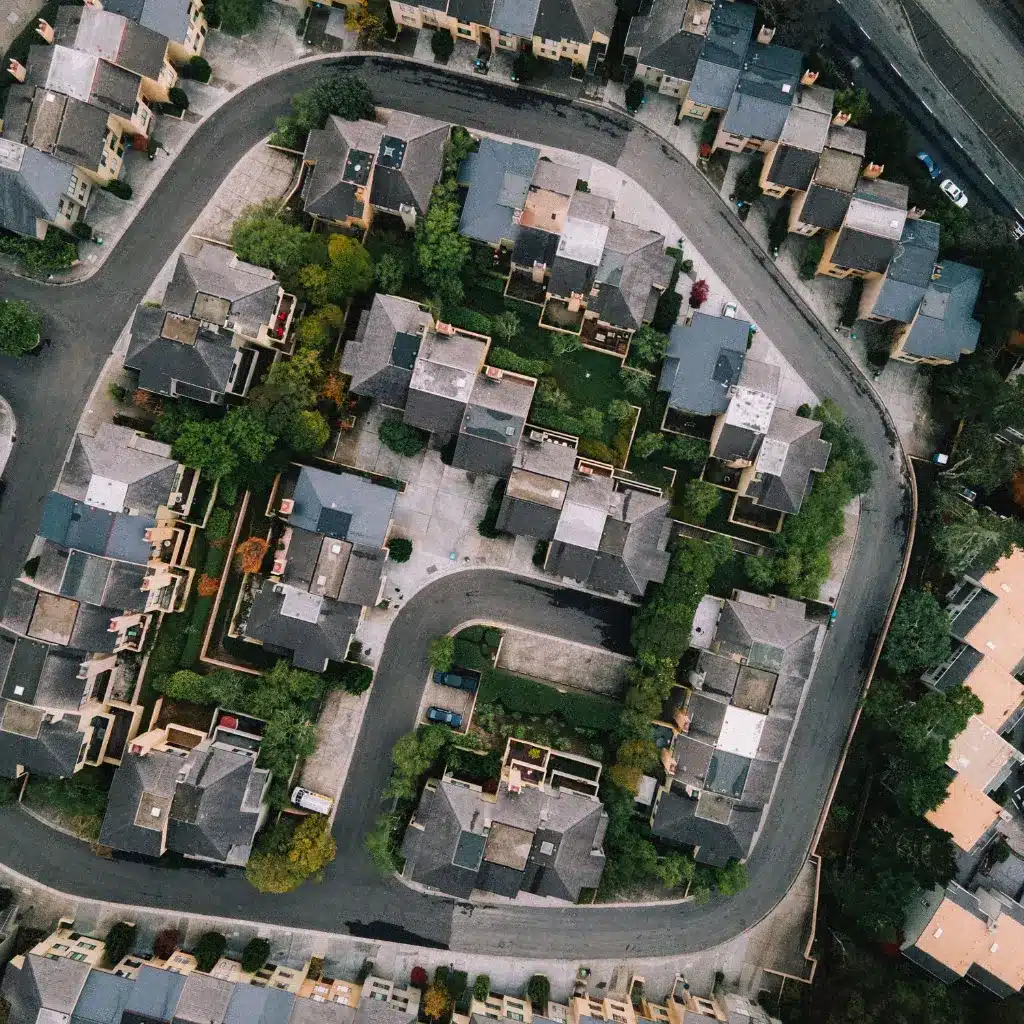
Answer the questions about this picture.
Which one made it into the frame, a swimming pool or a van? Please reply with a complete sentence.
Visible in the photo is a van.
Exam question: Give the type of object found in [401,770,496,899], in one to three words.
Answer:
house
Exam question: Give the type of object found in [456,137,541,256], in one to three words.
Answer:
house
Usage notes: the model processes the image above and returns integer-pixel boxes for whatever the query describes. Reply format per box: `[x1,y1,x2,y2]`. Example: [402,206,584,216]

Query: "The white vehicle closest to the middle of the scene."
[720,294,739,319]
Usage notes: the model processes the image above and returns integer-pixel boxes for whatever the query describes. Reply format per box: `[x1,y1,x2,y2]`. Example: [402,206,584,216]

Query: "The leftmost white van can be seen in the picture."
[289,787,334,815]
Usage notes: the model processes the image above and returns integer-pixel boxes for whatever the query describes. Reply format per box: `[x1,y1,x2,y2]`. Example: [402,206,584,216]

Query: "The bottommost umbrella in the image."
[220,712,239,728]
